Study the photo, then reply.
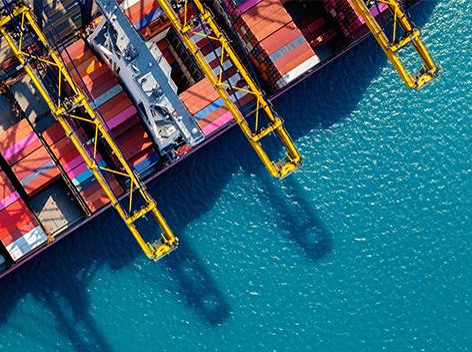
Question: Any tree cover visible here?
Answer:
No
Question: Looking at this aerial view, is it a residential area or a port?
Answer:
port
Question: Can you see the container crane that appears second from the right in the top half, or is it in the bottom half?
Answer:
top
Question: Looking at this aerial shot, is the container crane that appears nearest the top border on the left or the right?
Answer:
right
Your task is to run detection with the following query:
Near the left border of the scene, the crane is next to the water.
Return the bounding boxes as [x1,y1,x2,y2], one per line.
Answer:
[0,0,178,257]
